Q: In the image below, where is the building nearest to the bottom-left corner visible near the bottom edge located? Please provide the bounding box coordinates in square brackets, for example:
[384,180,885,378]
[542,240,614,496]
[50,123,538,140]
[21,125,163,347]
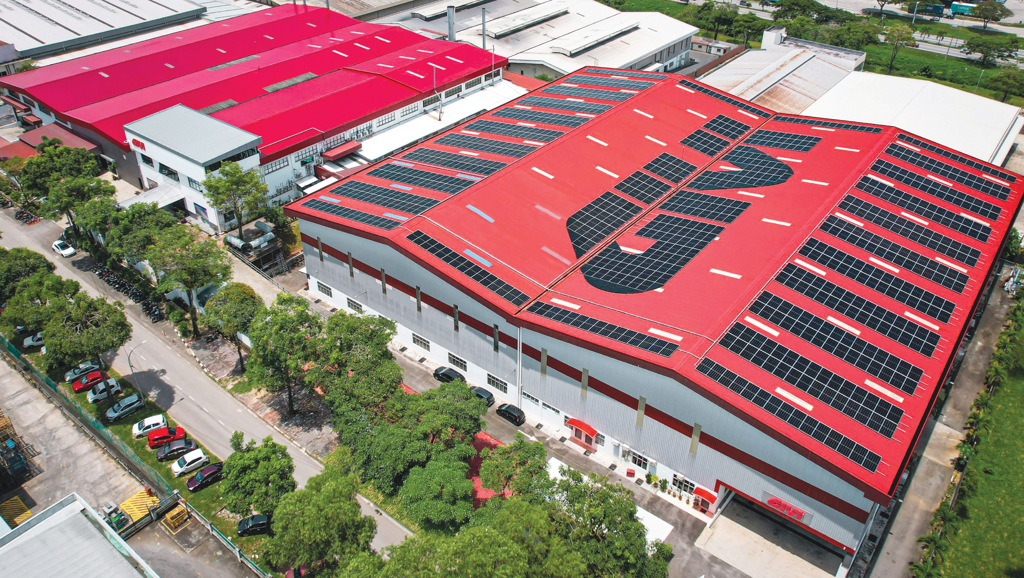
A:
[0,492,155,578]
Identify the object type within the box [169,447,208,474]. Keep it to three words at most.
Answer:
car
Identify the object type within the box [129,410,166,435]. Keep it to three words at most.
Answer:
car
